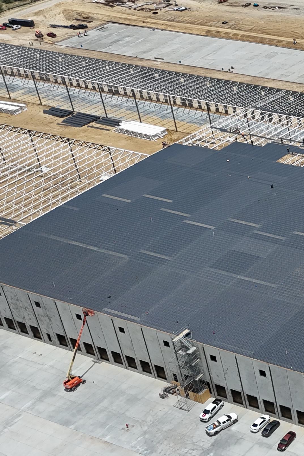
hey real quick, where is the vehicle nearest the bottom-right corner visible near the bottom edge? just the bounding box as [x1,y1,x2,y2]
[275,428,296,449]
